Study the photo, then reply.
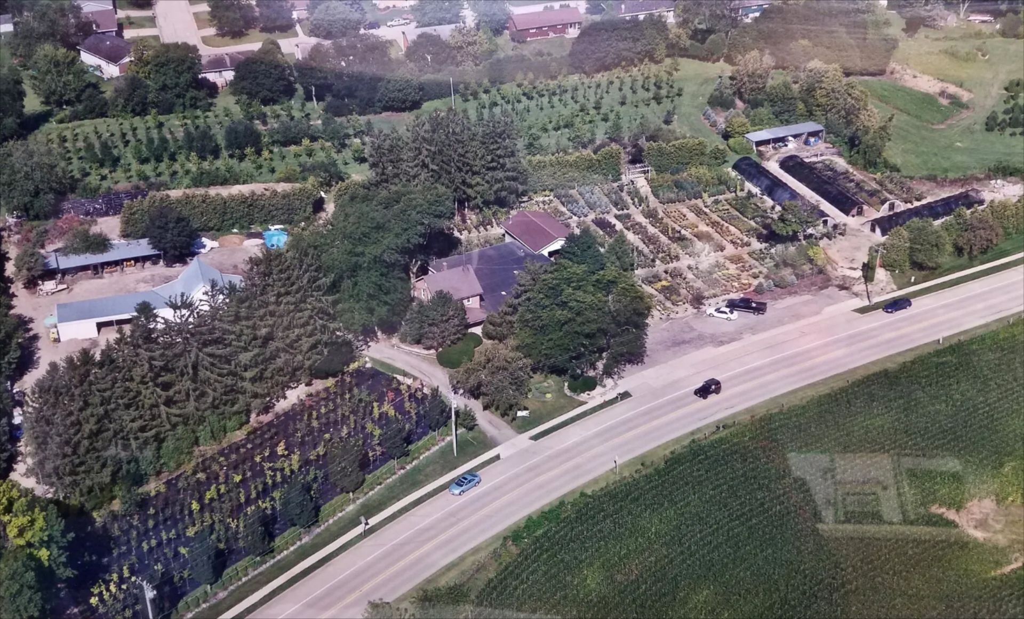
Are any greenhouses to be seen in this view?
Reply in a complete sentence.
Yes, the photo shows a greenhouse.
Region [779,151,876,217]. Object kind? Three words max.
greenhouse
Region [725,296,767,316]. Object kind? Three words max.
vehicle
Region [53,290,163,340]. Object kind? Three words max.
shed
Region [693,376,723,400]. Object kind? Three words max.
car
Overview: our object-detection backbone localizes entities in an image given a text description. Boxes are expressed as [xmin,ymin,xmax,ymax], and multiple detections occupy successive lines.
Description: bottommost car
[447,470,484,496]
